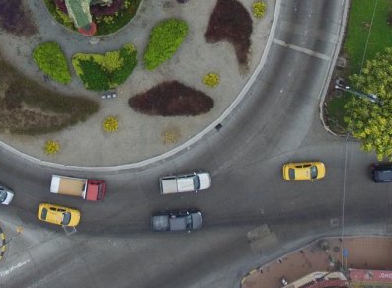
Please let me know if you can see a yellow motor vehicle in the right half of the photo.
Yes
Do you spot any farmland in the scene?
No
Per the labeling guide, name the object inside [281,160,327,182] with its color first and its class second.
yellow car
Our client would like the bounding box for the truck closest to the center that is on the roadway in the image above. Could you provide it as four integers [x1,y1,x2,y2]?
[158,170,212,194]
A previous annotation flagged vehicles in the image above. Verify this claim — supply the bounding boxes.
[158,170,212,194]
[36,200,83,232]
[0,184,20,208]
[281,160,327,182]
[370,162,392,182]
[49,173,108,202]
[151,209,204,232]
